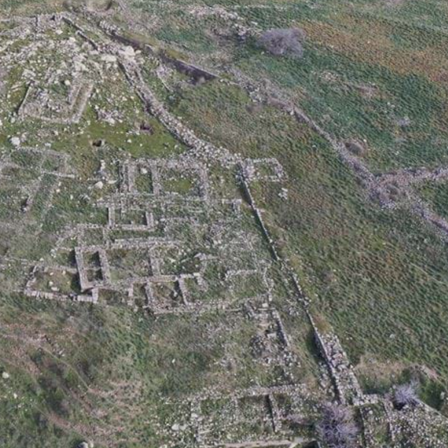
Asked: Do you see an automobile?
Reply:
No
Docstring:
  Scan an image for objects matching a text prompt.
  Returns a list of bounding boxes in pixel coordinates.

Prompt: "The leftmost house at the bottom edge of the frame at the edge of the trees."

[188,380,313,448]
